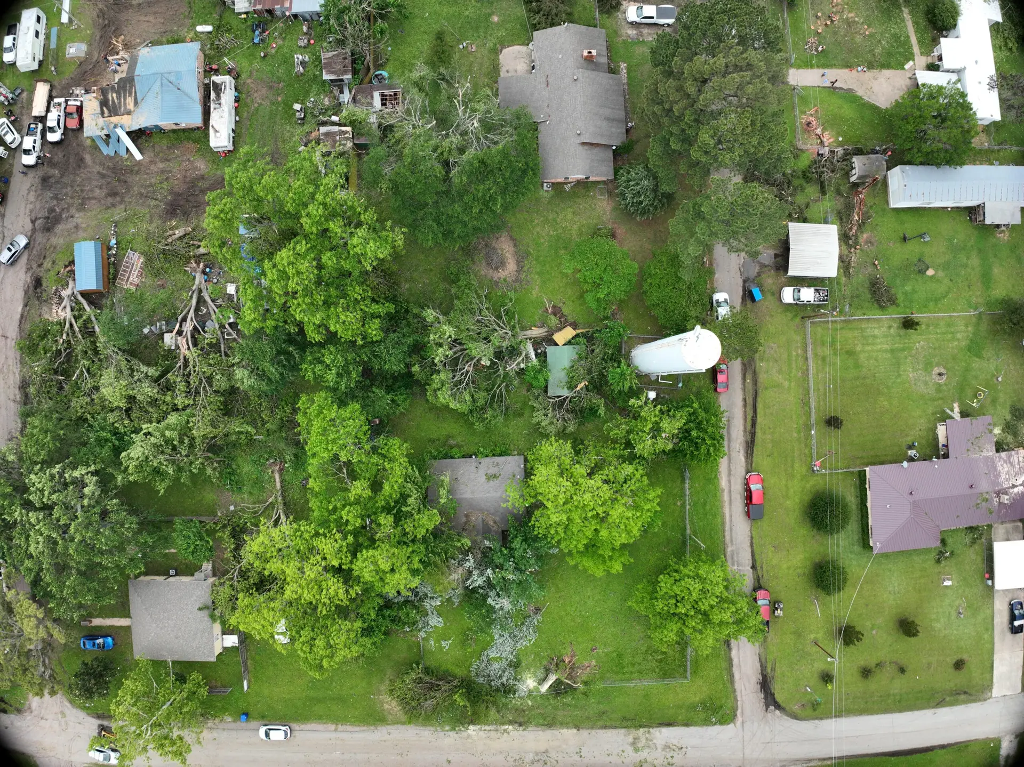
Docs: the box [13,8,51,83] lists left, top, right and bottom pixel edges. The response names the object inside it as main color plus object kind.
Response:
white trailer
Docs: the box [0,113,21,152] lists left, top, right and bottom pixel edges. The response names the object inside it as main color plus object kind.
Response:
white car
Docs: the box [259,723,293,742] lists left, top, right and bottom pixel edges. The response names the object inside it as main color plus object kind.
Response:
white car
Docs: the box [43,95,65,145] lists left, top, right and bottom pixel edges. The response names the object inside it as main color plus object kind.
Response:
white truck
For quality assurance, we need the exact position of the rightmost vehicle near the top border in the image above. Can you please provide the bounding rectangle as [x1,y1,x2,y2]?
[626,4,677,27]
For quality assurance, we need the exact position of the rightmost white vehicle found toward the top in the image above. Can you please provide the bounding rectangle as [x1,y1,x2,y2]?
[781,286,830,304]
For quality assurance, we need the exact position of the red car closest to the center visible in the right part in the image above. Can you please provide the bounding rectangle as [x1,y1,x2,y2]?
[712,359,730,394]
